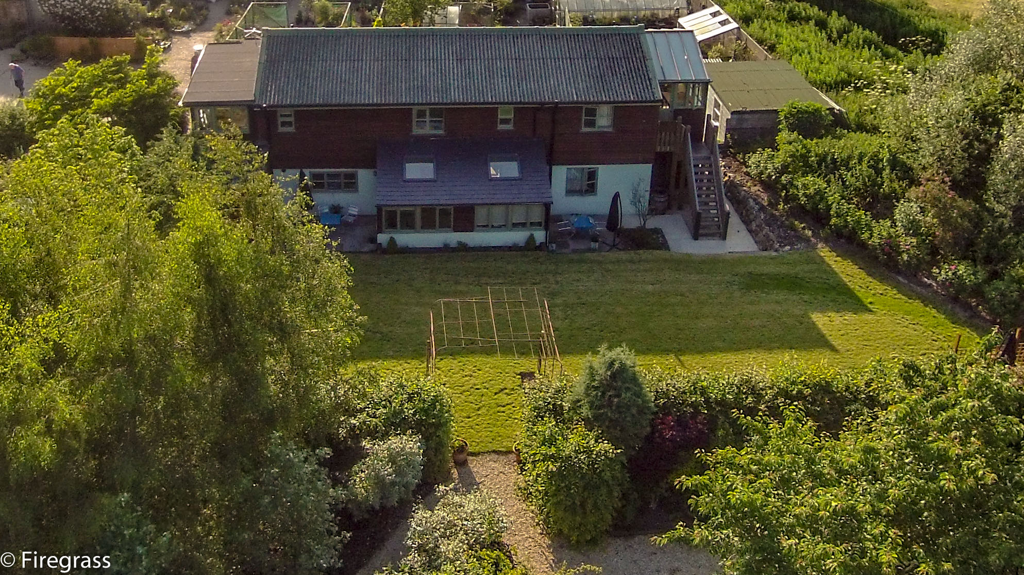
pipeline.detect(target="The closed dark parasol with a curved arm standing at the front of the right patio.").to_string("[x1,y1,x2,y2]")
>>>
[604,196,622,250]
